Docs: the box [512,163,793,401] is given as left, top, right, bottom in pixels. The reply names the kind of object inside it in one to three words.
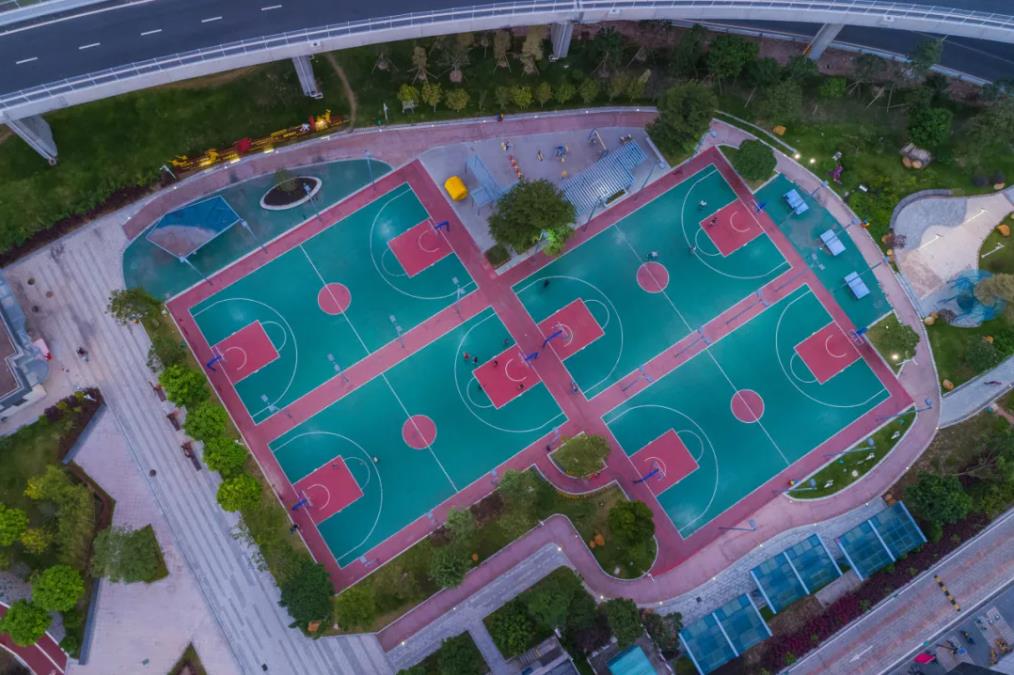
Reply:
basketball court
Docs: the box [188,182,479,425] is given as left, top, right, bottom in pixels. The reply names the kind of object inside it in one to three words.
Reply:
basketball court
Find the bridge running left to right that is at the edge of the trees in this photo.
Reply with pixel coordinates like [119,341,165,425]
[0,0,1014,163]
